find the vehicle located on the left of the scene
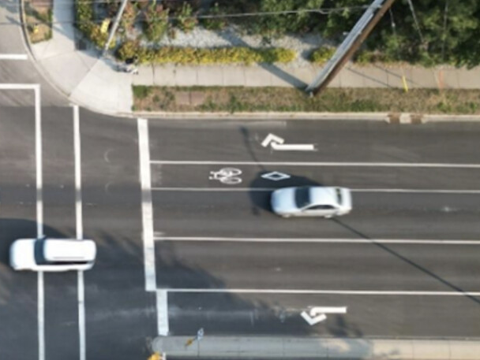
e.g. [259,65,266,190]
[8,232,98,275]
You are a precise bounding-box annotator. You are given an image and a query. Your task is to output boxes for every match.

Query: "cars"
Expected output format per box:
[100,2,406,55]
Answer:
[8,232,98,275]
[268,180,354,221]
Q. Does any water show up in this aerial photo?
No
